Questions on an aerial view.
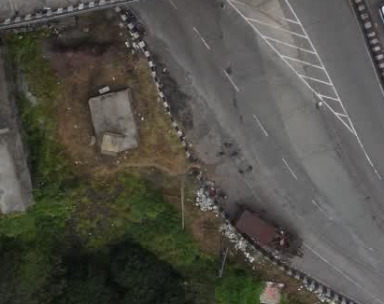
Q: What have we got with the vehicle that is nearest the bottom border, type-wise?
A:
truck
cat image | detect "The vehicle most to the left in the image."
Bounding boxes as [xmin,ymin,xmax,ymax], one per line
[233,204,298,256]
